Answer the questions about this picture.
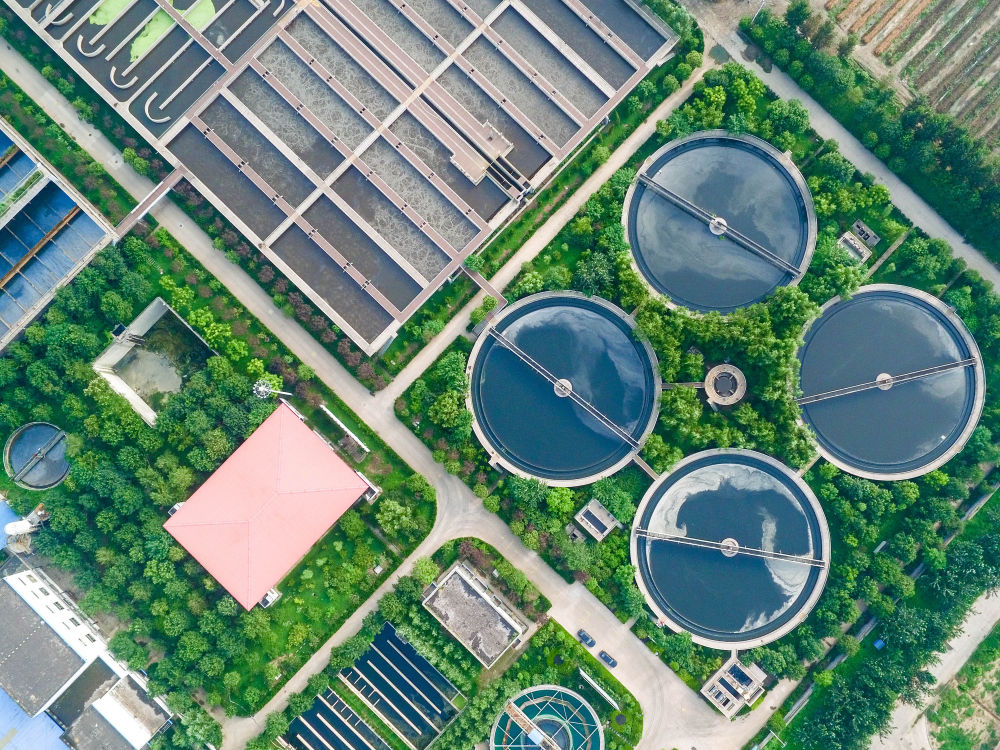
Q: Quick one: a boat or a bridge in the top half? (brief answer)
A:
bridge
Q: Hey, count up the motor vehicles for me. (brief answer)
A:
2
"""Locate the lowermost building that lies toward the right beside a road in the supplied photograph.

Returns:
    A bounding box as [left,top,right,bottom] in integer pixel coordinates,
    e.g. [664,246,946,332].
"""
[699,658,766,720]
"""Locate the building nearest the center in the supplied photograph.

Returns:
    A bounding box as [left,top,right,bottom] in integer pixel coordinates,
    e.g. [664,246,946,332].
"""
[573,497,624,542]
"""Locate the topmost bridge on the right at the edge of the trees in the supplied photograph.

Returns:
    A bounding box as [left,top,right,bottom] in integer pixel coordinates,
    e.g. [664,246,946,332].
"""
[637,175,803,275]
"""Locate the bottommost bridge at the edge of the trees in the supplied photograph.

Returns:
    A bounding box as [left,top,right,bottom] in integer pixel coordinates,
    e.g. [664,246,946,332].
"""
[634,528,826,567]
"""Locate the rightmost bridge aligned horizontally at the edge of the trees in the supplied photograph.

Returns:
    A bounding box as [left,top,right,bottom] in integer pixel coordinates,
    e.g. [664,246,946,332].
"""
[802,358,976,402]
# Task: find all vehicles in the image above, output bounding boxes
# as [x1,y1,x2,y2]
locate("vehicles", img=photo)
[575,627,597,648]
[597,647,619,669]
